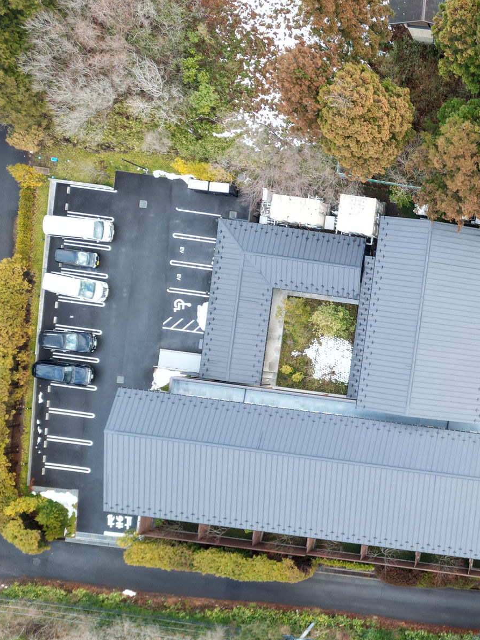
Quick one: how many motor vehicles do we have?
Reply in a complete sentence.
The picture shows 5 motor vehicles.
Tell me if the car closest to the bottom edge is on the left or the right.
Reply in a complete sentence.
The car closest to the bottom edge is on the left side of the image.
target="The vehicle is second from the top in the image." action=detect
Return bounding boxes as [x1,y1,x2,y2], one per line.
[50,246,96,268]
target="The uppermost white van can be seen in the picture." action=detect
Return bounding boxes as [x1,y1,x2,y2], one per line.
[38,215,109,244]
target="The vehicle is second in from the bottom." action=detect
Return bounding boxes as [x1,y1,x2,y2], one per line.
[34,330,96,356]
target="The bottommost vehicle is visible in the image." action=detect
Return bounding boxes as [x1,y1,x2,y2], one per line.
[29,360,94,388]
